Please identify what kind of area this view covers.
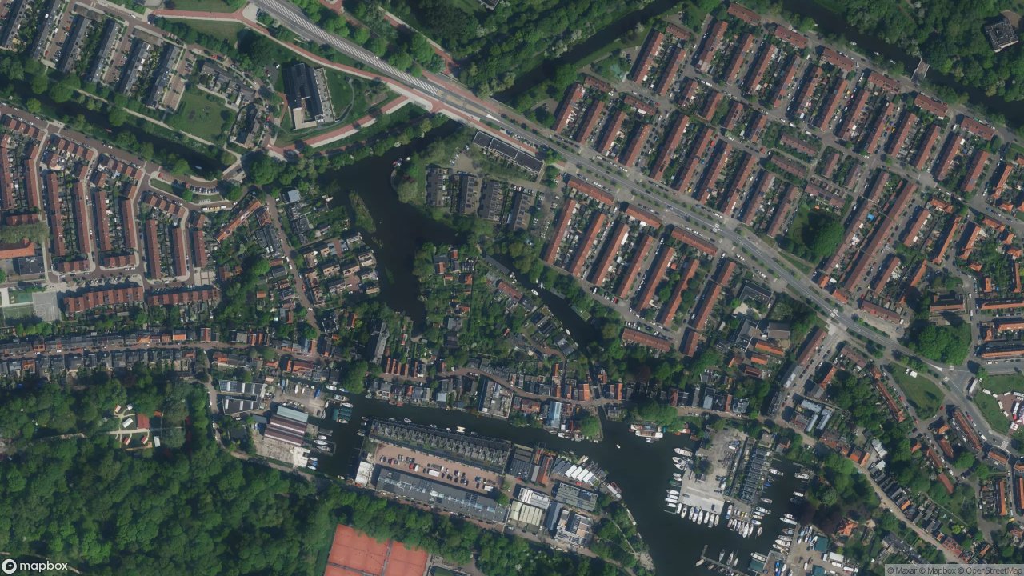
residential area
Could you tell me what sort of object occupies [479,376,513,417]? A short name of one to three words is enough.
building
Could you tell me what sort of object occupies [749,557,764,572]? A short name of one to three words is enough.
boat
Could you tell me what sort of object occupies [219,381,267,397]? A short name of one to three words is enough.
building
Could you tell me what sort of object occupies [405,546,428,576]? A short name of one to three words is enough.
tennis court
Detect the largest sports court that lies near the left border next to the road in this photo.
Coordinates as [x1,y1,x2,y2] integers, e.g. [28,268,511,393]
[32,291,59,321]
